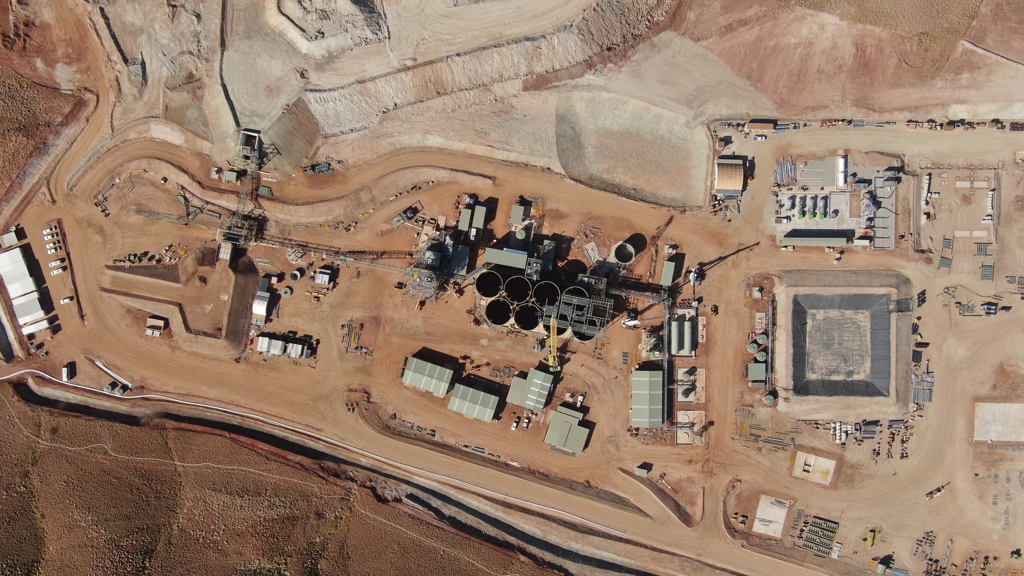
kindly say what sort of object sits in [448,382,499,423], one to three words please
shed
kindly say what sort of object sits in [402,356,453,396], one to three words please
shed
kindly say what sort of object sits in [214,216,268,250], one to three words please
building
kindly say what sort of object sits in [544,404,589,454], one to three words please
building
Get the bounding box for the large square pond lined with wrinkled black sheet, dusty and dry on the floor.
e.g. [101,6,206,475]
[791,293,914,398]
